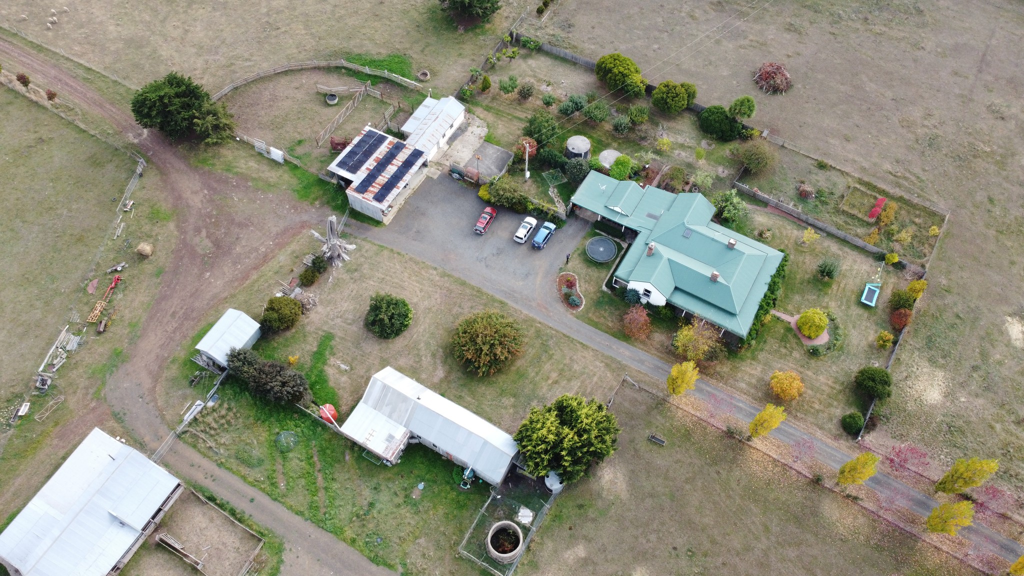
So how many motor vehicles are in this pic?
three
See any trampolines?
Yes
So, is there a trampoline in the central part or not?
Yes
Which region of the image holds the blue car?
center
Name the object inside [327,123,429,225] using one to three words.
shed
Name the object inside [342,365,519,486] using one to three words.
shed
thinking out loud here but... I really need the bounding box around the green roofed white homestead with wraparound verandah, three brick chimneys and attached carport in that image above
[570,169,784,345]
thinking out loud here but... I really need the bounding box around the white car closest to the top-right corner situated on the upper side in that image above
[514,216,536,244]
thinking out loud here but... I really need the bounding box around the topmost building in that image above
[401,97,466,160]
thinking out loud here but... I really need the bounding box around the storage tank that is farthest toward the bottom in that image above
[486,522,525,565]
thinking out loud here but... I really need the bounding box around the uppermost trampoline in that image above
[586,235,618,265]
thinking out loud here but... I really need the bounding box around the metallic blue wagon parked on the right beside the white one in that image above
[533,222,554,250]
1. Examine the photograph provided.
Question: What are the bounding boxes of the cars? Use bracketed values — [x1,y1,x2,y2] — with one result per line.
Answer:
[514,216,536,244]
[533,222,554,250]
[474,207,495,235]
